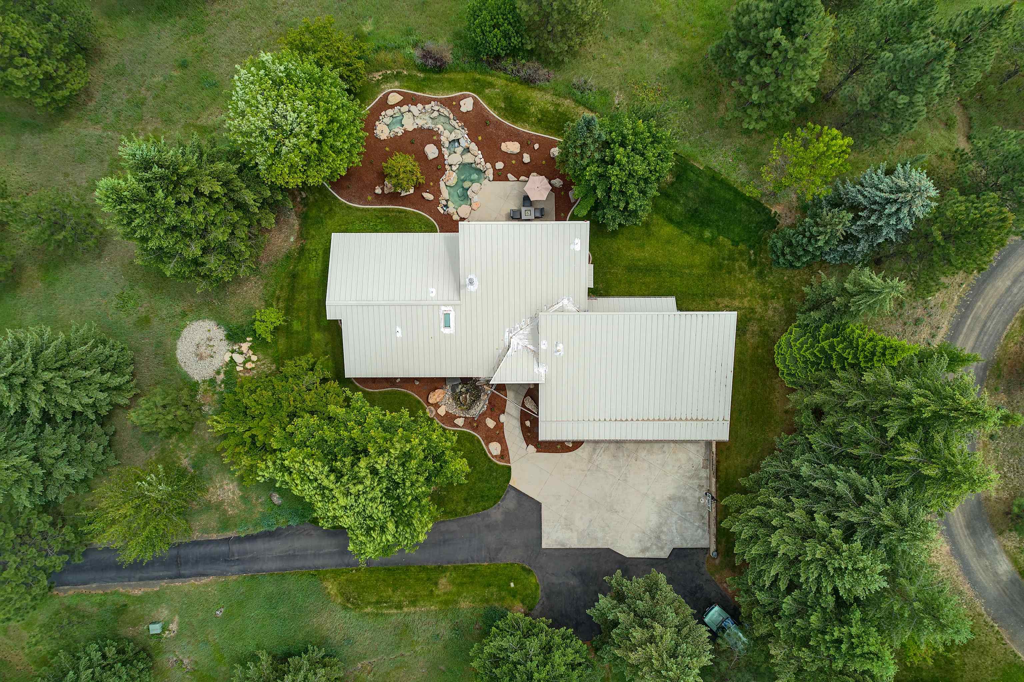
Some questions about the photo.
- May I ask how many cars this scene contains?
1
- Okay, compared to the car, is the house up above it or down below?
above it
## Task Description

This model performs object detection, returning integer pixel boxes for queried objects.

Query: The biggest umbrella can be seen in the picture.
[524,176,552,201]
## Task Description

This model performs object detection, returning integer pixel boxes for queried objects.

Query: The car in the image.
[703,605,752,662]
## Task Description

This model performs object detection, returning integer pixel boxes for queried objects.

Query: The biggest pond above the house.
[374,101,494,221]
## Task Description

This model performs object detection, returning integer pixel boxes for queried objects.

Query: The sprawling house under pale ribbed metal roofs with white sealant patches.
[325,222,737,444]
